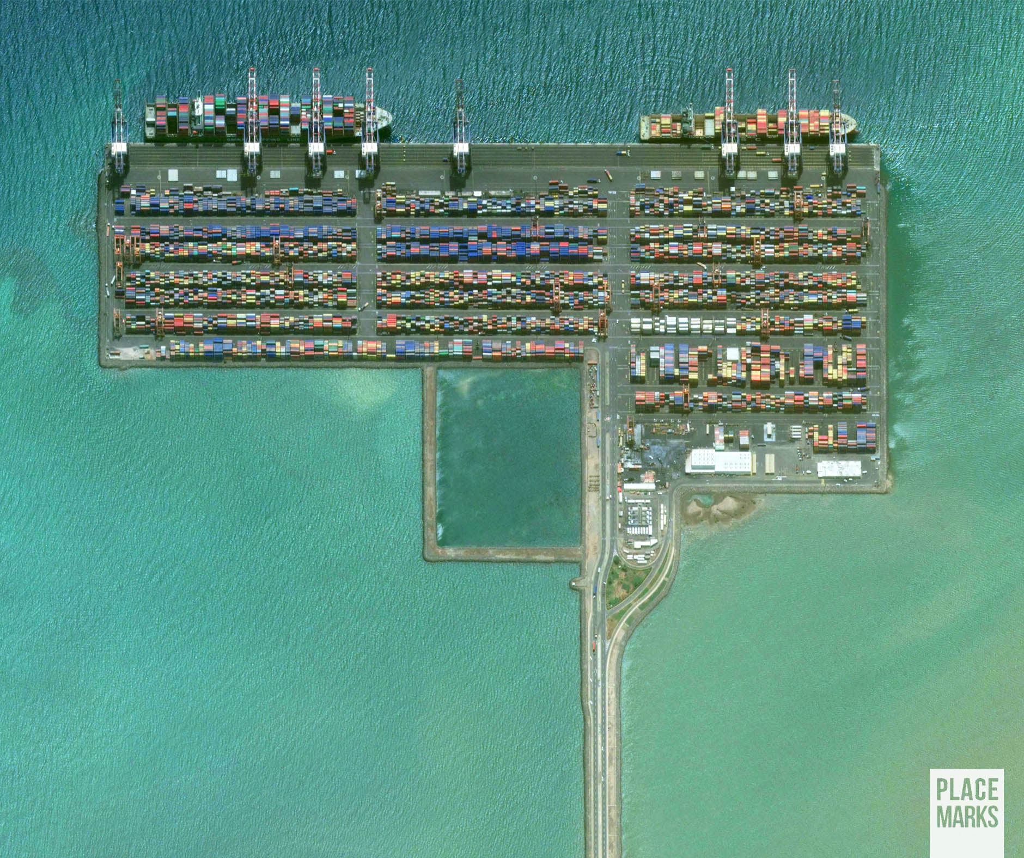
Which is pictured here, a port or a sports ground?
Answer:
port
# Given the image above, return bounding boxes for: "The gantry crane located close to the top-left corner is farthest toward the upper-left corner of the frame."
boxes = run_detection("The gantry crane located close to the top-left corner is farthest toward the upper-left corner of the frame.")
[109,77,129,177]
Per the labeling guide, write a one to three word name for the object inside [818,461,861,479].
shed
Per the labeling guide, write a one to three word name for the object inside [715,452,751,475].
building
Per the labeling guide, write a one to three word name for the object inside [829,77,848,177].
container crane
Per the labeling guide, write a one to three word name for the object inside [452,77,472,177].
container crane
